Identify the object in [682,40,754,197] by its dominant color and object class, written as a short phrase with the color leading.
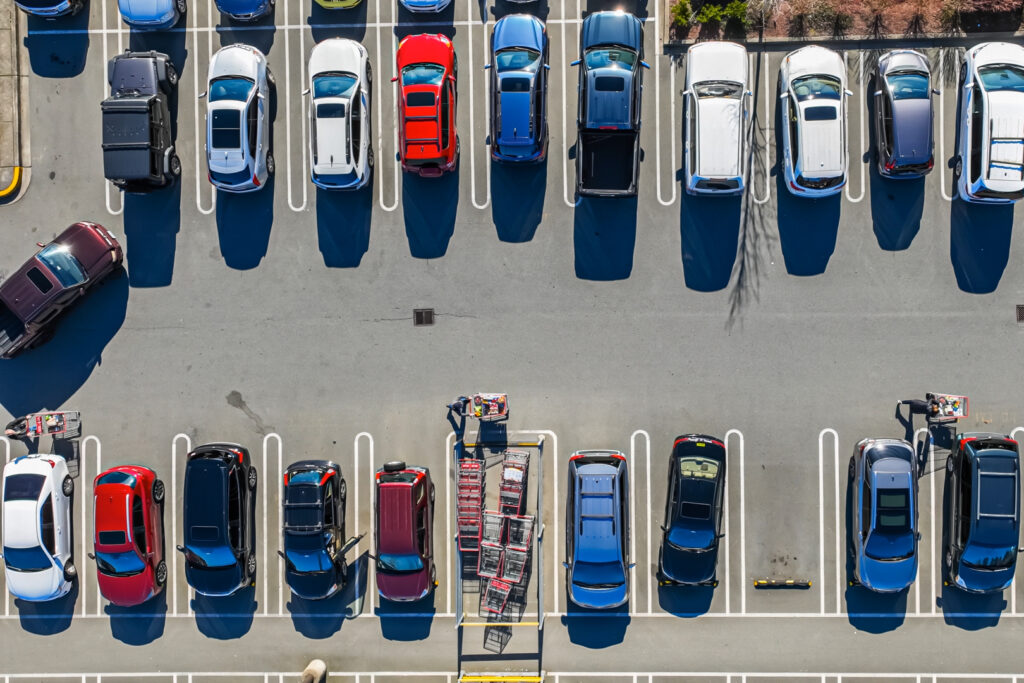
white car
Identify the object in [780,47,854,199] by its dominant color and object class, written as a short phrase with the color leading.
white car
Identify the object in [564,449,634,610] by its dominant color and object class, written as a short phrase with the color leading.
blue car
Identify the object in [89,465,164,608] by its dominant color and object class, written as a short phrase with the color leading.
red car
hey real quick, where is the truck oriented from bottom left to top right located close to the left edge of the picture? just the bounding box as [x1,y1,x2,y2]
[0,222,129,365]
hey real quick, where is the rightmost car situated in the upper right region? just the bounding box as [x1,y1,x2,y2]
[952,43,1024,205]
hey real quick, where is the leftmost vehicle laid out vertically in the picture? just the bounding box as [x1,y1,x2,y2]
[0,453,74,603]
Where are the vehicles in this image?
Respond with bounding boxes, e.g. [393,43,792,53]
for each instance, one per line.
[217,0,275,22]
[21,0,78,17]
[403,0,448,14]
[662,434,730,586]
[780,47,854,199]
[849,436,923,592]
[301,38,371,191]
[574,10,649,201]
[947,432,1024,594]
[870,51,943,181]
[369,461,436,603]
[89,465,164,608]
[390,34,456,179]
[564,449,634,610]
[200,44,273,194]
[485,15,552,164]
[181,442,256,598]
[682,40,754,197]
[278,458,370,602]
[102,50,179,191]
[0,222,129,365]
[952,43,1024,205]
[0,453,74,603]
